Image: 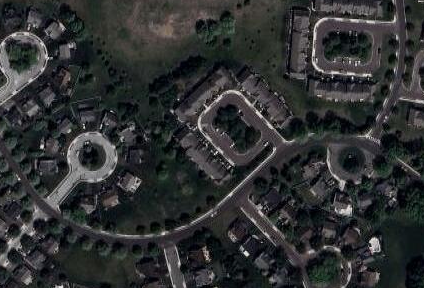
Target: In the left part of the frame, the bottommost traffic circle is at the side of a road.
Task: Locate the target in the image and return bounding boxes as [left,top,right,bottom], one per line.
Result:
[68,134,116,182]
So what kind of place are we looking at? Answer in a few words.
residential area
